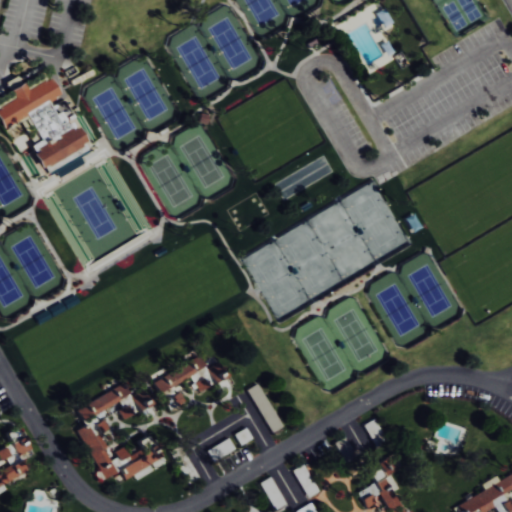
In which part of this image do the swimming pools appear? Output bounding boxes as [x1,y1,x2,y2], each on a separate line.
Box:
[434,422,466,454]
[25,488,58,512]
[332,3,398,74]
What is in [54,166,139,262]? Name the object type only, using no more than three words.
tennis court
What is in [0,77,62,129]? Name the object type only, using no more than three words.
building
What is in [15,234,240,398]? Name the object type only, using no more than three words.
sports field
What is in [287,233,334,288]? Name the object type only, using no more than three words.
tennis court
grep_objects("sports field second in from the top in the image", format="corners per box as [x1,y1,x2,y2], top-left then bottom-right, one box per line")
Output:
[408,132,512,253]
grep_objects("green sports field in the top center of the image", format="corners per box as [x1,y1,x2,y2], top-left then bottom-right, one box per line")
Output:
[220,82,323,180]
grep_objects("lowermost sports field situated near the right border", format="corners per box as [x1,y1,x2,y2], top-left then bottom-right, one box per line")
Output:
[444,220,512,324]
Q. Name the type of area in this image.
sports ground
